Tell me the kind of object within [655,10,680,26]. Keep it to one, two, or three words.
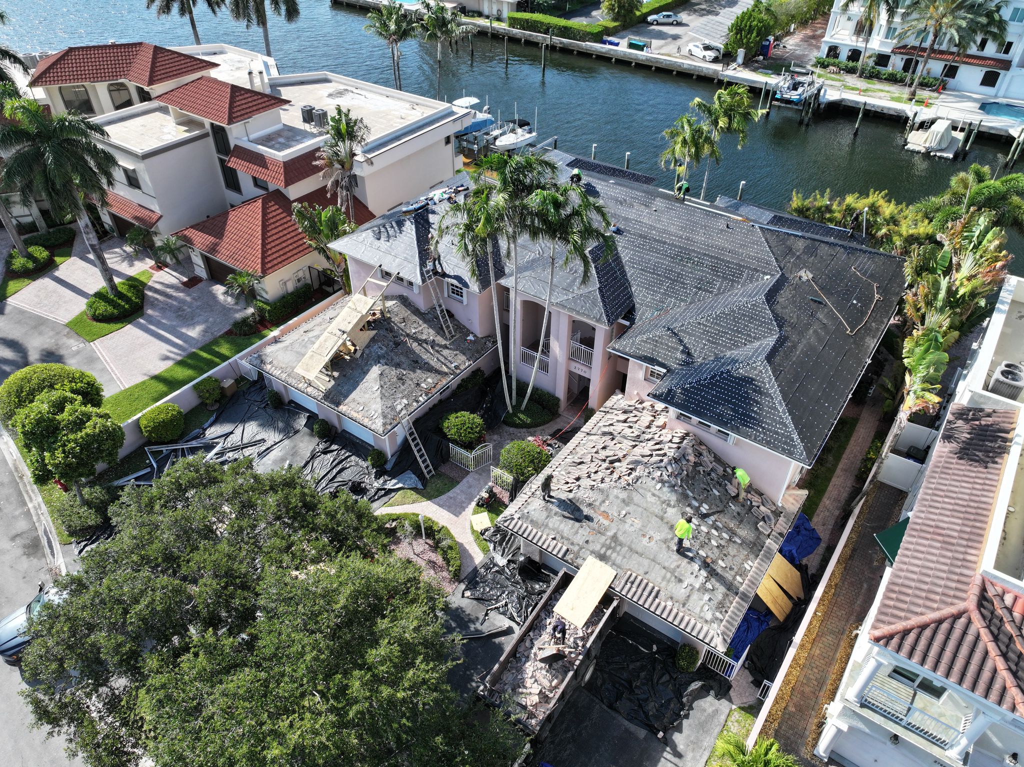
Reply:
car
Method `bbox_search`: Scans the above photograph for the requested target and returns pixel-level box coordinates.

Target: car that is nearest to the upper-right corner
[688,40,722,57]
